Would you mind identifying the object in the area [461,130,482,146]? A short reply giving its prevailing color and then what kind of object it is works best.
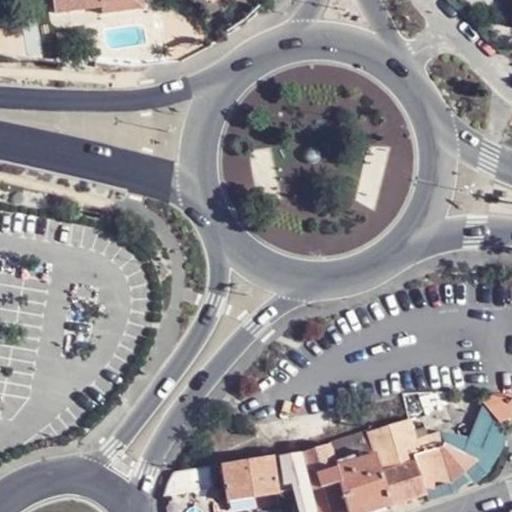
white car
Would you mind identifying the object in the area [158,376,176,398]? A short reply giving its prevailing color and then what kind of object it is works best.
white car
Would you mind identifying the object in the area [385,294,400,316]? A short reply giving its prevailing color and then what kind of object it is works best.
white vehicle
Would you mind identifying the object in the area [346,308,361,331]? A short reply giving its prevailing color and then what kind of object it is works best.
white vehicle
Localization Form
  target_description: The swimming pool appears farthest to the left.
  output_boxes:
[104,24,148,50]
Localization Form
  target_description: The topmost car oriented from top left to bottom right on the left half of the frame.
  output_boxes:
[187,206,208,225]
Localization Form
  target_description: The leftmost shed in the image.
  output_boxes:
[24,22,42,58]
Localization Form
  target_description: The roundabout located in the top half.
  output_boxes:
[176,18,459,301]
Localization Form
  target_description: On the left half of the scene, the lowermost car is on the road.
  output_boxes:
[142,474,156,494]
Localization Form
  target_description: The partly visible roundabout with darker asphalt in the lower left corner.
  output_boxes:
[0,456,132,512]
